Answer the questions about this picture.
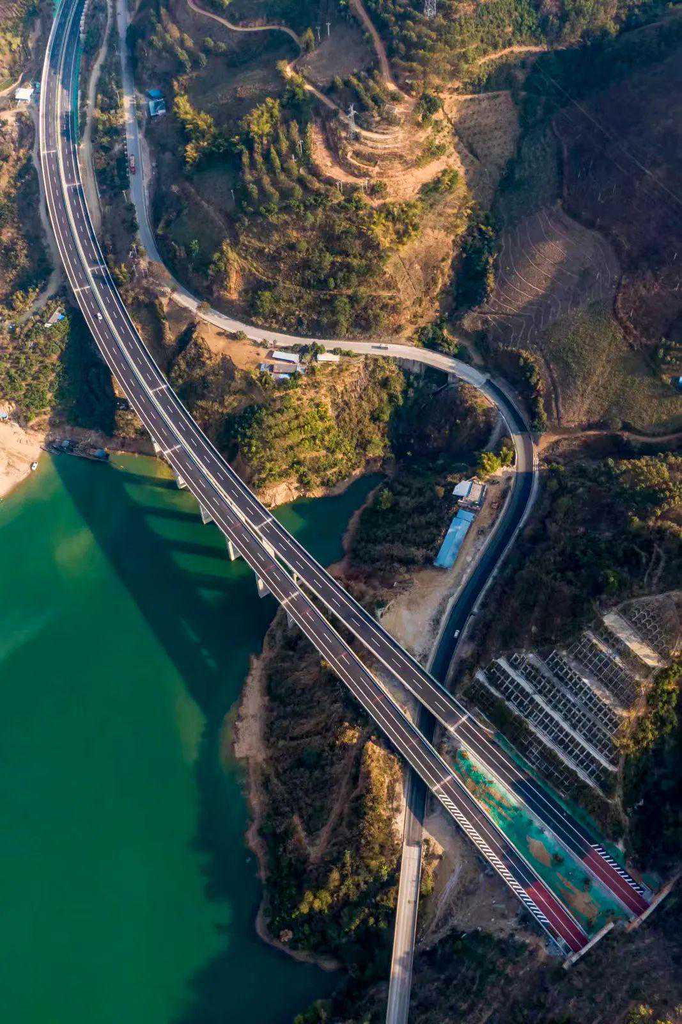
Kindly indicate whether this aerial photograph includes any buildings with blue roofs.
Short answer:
Yes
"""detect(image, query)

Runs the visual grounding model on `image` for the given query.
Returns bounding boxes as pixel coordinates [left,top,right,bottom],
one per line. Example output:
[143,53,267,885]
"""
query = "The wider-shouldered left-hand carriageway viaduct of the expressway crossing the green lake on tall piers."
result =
[41,151,447,783]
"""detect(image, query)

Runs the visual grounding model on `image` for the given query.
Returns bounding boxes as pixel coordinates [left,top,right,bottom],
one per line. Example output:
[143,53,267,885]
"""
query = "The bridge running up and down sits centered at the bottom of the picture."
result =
[386,845,422,1024]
